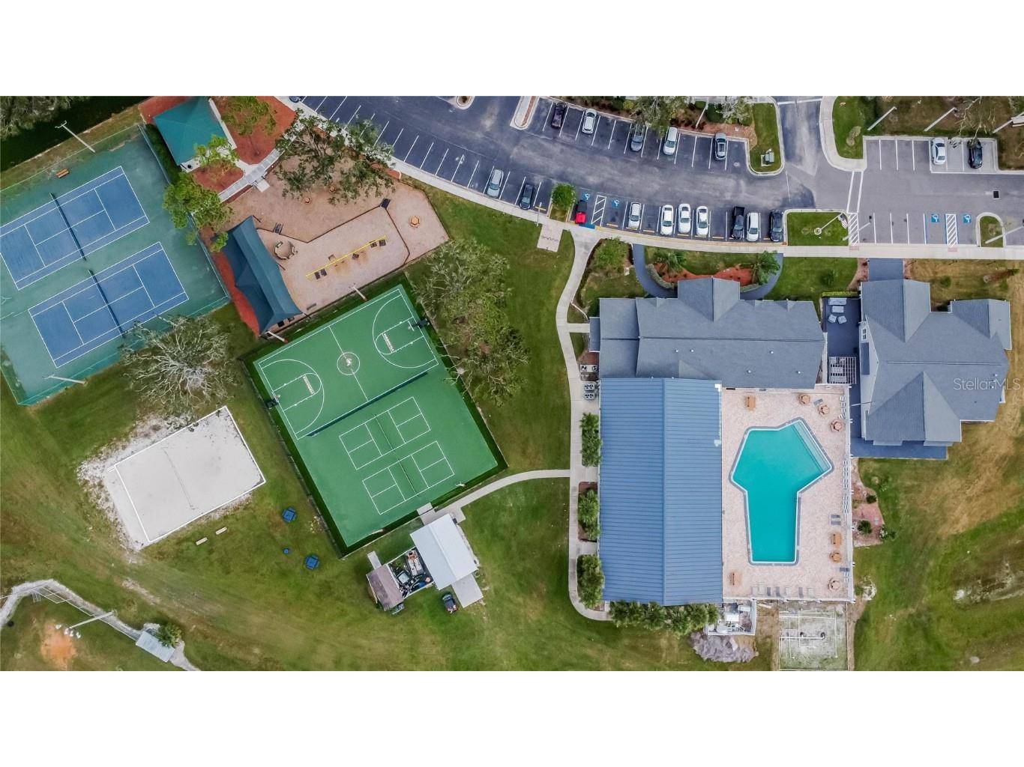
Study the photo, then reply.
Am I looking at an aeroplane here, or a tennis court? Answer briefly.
tennis court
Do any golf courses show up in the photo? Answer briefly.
No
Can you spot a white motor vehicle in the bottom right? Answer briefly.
No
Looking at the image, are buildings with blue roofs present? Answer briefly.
Yes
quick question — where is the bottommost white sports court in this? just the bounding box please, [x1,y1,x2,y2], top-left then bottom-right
[107,405,266,543]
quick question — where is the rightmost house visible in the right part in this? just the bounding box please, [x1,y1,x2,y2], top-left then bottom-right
[853,279,1011,446]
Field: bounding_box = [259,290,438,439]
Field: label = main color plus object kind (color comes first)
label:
green basketball court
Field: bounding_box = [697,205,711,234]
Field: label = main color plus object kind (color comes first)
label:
white car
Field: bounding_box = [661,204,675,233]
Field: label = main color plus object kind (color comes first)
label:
white car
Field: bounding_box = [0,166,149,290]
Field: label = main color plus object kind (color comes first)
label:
blue tennis court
